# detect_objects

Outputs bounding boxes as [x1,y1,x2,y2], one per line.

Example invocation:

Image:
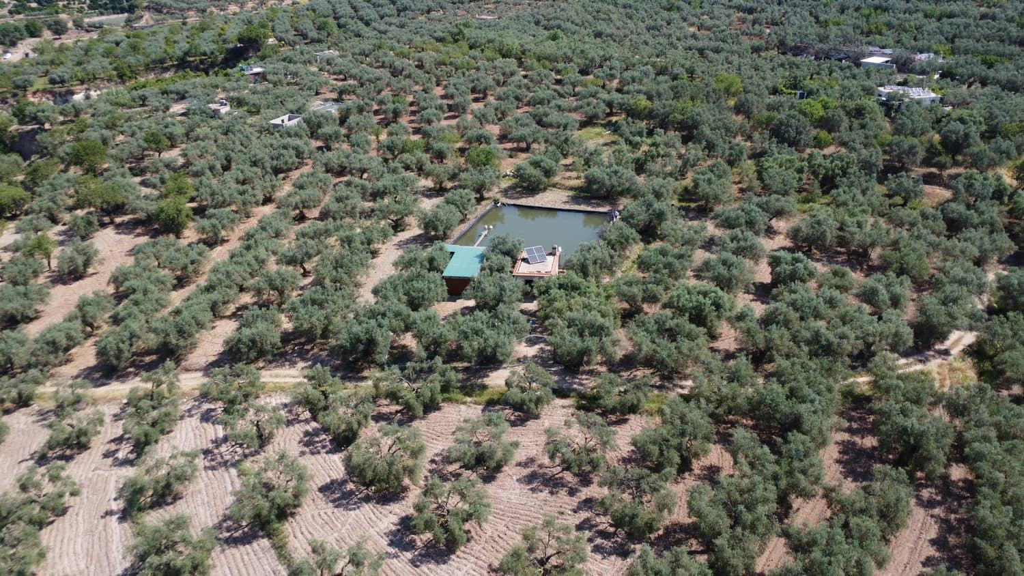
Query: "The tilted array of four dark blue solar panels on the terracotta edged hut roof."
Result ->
[526,246,548,267]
